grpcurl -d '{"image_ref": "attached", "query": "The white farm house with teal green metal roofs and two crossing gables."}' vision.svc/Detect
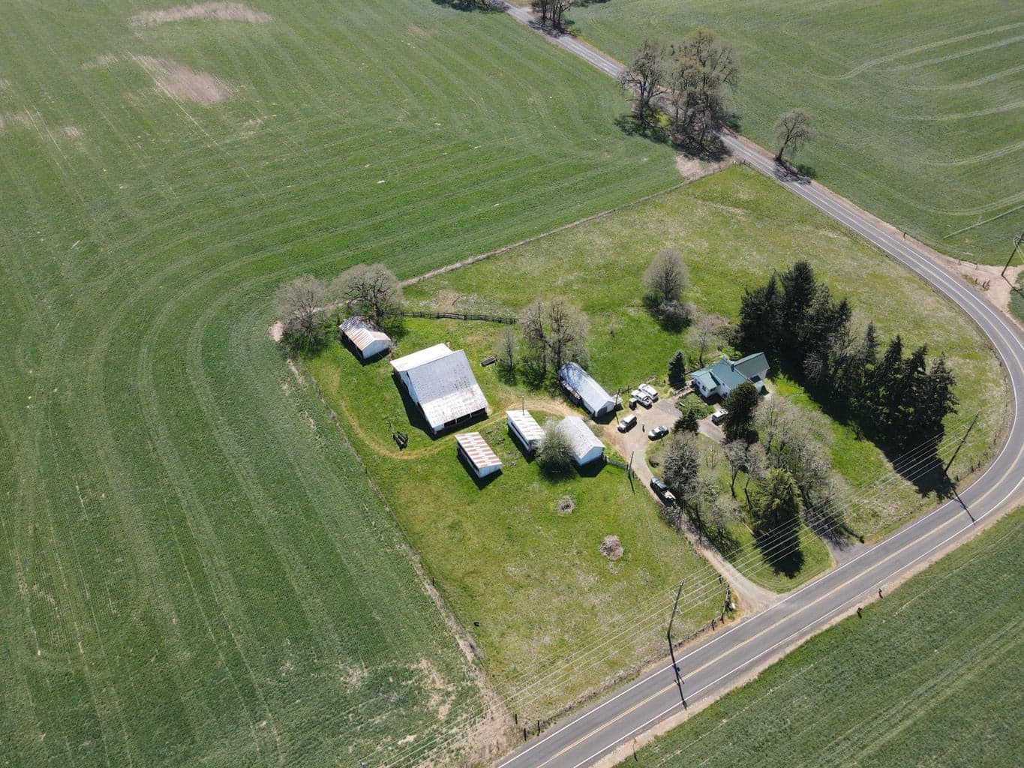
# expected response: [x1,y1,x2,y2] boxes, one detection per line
[688,352,773,399]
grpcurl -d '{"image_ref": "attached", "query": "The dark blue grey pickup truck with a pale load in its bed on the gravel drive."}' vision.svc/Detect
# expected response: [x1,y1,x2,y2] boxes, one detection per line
[651,480,676,503]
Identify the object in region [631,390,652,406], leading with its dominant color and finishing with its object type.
white vehicle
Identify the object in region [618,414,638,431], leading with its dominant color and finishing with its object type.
white vehicle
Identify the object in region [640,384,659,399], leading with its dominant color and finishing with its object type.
white car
